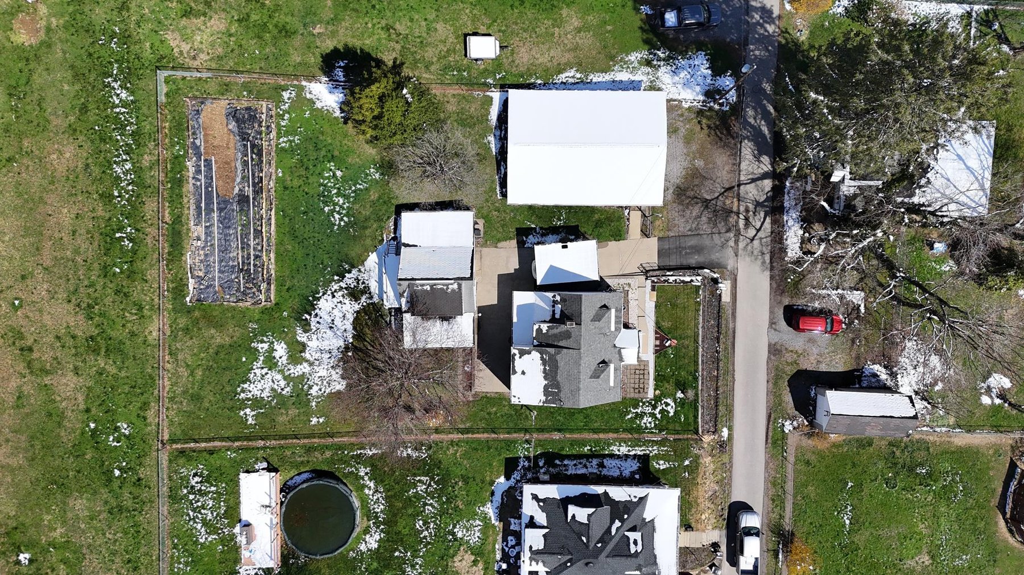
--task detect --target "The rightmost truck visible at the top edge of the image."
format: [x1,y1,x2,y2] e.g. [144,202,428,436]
[654,1,722,32]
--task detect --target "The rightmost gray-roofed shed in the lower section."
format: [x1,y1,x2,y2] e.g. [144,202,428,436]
[806,388,918,438]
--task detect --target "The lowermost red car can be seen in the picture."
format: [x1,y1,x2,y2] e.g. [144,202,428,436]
[789,312,843,338]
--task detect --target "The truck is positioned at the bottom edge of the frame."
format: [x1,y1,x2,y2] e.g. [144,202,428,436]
[732,508,762,575]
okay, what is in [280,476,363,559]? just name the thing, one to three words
swimming pool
